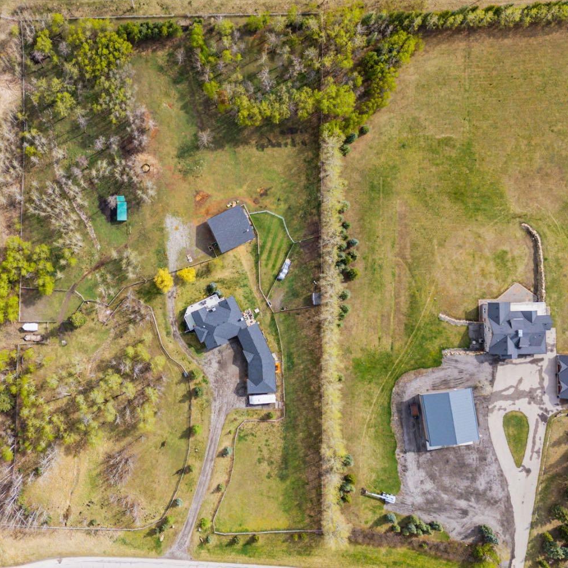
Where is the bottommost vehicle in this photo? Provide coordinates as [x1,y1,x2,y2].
[361,486,398,504]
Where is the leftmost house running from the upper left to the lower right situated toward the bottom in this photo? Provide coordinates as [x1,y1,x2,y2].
[185,295,276,394]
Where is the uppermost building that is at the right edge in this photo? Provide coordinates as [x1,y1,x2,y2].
[480,302,553,359]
